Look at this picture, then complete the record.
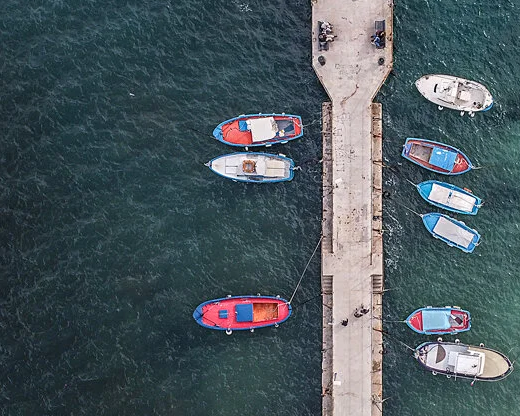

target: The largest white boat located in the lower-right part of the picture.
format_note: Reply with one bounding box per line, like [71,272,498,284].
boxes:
[415,337,513,386]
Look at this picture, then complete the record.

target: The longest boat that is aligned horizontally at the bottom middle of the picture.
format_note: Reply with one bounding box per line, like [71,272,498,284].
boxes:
[192,293,292,335]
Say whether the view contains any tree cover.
No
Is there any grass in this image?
No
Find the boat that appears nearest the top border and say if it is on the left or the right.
right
